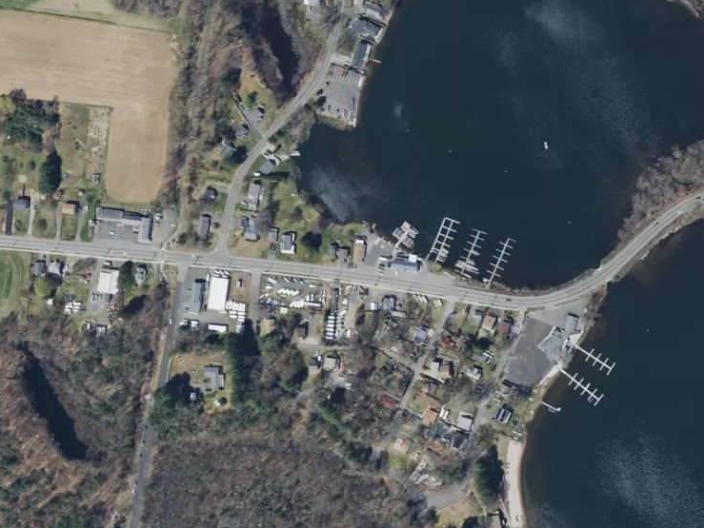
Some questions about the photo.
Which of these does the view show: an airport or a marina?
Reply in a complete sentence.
This image shows a marina.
